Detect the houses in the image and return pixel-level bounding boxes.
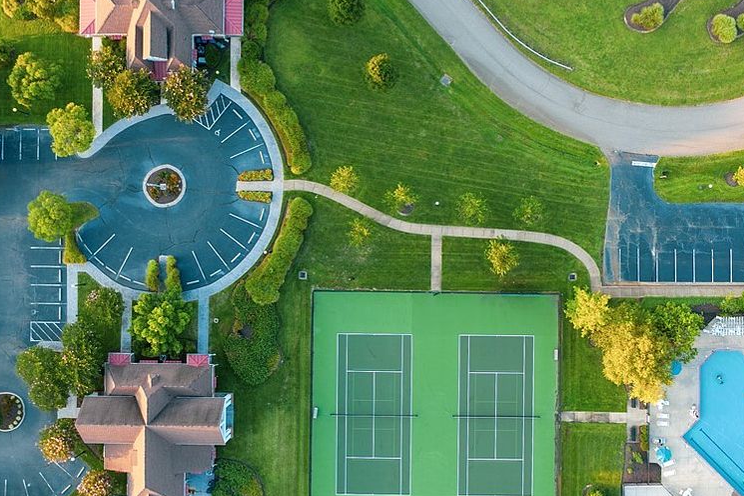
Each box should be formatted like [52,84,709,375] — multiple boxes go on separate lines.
[73,353,234,496]
[79,0,246,84]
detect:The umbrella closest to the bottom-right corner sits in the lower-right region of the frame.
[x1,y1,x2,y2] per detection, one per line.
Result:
[654,446,670,462]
